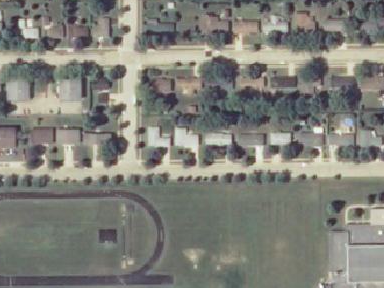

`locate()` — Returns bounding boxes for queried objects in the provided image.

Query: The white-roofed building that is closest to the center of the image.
[174,127,198,151]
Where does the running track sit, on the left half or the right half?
left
